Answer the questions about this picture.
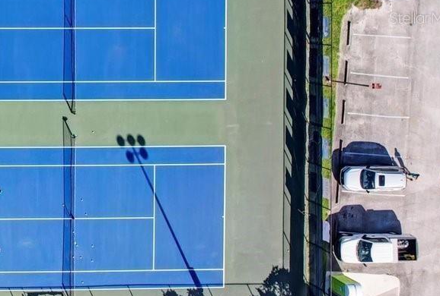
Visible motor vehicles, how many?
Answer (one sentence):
The number of motor vehicles here is 2.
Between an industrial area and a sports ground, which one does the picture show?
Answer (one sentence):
This looks like a sports ground.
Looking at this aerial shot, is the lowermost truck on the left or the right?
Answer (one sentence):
The lowermost truck sits on the right side.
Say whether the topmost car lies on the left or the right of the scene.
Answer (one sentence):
The topmost car is on the right side of the image.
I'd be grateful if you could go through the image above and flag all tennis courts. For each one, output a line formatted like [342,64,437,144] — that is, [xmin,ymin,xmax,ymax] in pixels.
[0,145,227,291]
[0,0,227,101]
